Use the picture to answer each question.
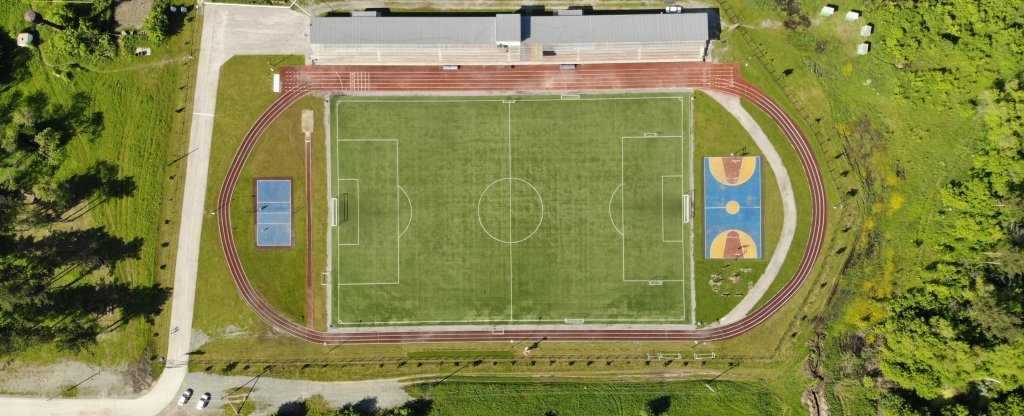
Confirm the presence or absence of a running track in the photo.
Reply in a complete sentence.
Yes, there's a running track here.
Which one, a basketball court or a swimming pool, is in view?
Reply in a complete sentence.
The image shows a basketball court.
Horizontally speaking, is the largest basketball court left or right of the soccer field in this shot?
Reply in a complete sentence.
You can see the largest basketball court positioned to the right of the soccer field.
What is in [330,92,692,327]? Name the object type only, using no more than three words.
soccer field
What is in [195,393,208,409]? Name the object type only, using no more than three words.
vehicle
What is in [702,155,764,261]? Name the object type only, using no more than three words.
basketball court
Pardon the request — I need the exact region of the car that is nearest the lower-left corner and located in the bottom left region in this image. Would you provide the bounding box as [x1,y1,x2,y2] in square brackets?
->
[176,390,190,406]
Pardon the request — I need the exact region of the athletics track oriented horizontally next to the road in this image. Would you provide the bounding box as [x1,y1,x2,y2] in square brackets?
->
[217,62,827,345]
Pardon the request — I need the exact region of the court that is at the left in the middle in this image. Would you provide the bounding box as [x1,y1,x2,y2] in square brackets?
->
[254,178,295,250]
